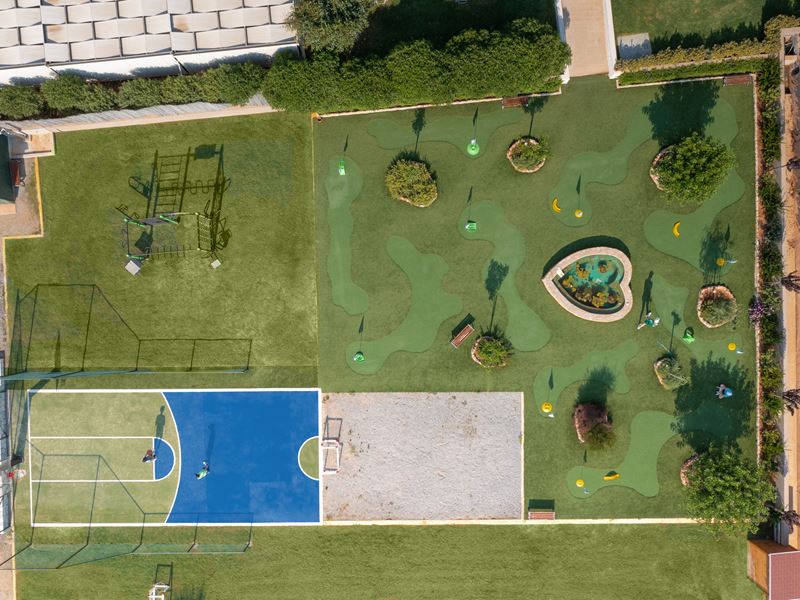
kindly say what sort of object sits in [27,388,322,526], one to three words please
basketball court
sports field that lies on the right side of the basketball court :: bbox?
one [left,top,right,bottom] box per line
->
[323,391,525,520]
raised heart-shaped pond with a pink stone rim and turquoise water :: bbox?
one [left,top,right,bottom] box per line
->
[541,247,634,322]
